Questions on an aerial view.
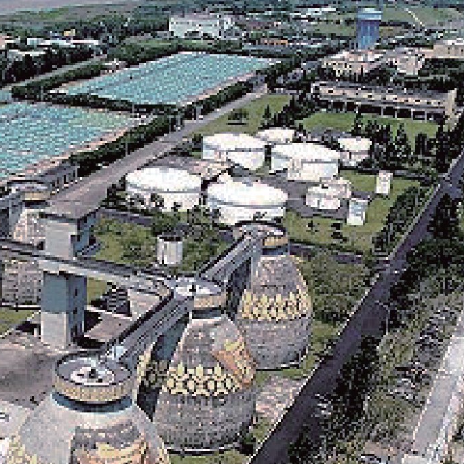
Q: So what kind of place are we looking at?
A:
industrial area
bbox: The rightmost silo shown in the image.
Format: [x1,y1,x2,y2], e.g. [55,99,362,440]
[373,167,395,195]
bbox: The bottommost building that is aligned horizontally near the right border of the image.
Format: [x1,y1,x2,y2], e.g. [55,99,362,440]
[299,80,451,120]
